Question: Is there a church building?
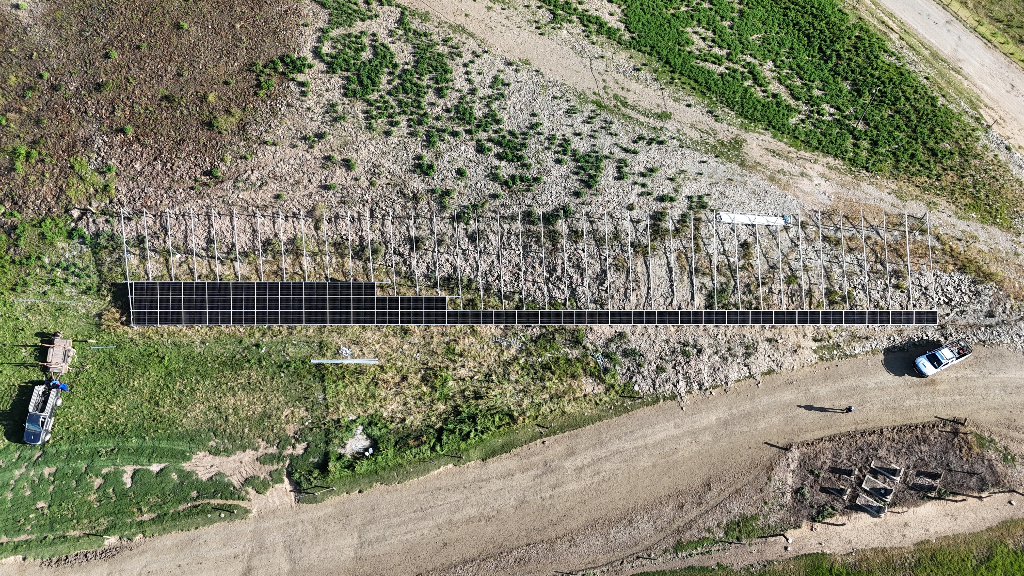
No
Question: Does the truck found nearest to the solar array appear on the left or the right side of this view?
right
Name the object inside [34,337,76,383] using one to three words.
trailer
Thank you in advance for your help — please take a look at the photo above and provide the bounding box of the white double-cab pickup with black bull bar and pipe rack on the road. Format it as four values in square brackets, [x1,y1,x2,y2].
[911,337,975,380]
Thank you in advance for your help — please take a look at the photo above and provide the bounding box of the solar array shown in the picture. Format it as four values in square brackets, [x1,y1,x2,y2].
[121,208,938,328]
